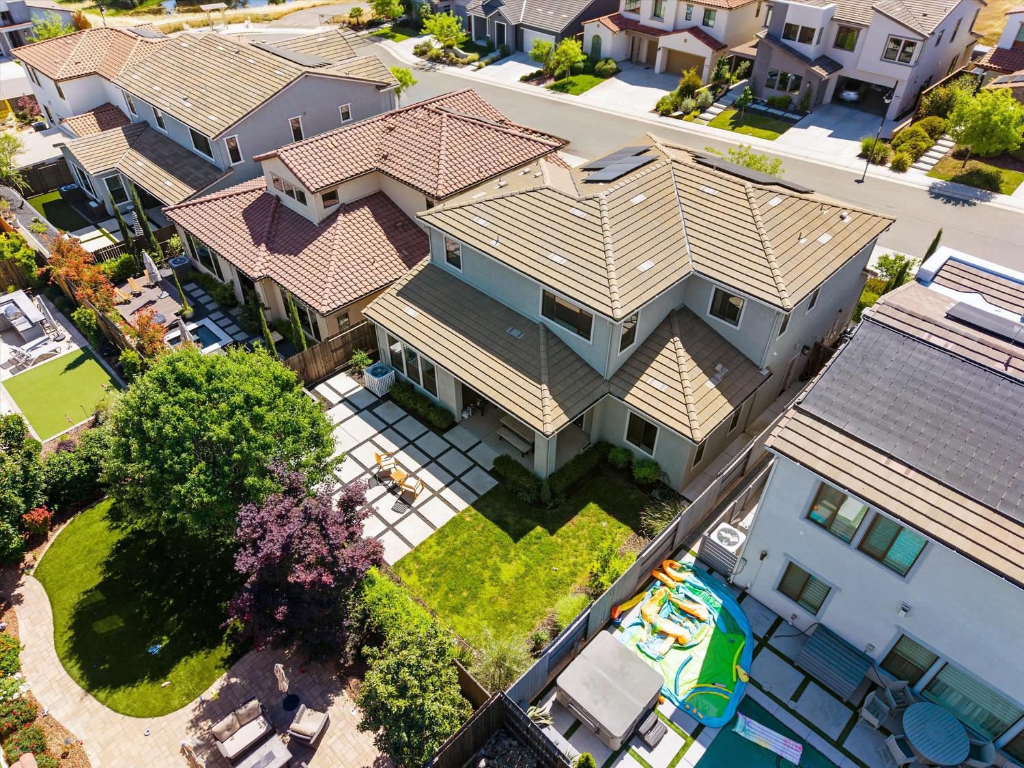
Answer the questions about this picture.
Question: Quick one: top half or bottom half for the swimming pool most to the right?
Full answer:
Seen from above, the swimming pool most to the right lies in the bottom half of the view.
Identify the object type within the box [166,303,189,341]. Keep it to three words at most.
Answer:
umbrella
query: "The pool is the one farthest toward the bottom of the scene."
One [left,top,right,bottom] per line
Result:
[697,698,838,768]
